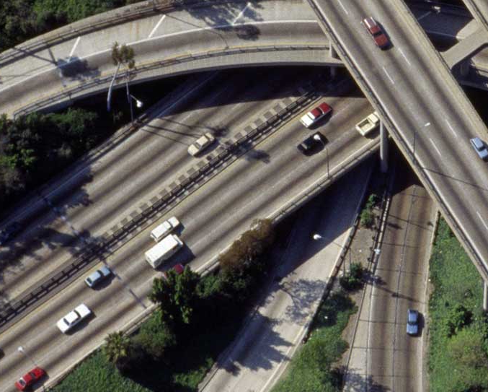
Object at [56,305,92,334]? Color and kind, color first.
white car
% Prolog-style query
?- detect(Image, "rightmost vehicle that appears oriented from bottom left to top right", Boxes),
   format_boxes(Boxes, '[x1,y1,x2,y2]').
[352,113,378,139]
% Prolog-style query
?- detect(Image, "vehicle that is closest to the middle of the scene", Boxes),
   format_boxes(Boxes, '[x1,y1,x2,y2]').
[185,133,216,158]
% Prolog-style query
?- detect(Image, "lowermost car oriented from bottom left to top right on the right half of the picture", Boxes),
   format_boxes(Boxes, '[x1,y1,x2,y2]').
[298,133,327,157]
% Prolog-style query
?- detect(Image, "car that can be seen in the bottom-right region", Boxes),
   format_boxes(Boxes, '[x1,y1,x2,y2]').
[406,310,419,335]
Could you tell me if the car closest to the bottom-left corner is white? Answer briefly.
No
